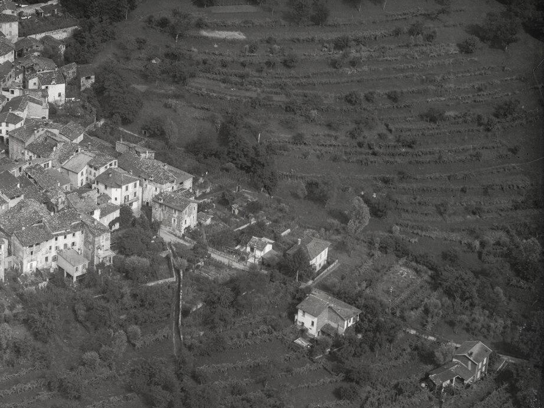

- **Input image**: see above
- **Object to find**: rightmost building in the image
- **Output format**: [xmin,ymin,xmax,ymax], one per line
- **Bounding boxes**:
[457,339,492,384]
